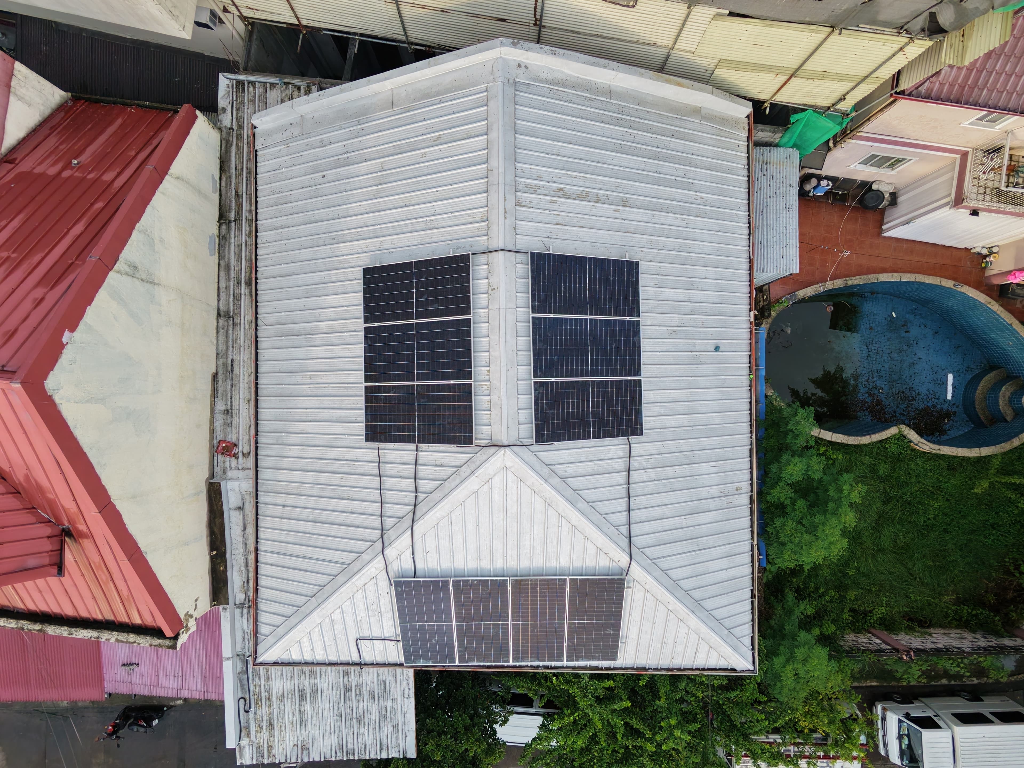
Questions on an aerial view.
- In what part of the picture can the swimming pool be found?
right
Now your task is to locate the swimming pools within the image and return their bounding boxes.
[761,272,1024,458]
